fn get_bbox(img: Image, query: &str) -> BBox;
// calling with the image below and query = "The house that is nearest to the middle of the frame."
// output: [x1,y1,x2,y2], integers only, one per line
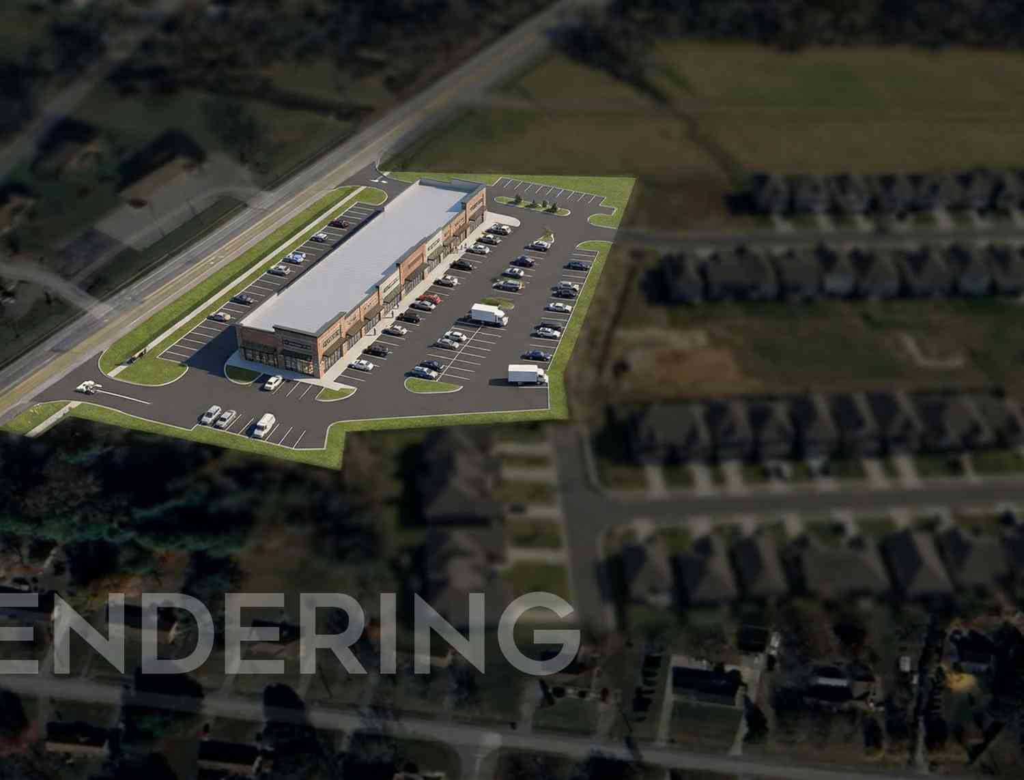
[427,416,500,465]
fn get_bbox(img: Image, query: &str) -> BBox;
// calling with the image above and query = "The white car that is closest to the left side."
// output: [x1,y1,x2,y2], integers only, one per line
[76,381,96,393]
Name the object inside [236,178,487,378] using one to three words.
building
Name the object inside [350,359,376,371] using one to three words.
vehicle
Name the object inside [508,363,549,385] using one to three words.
truck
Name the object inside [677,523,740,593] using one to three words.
house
